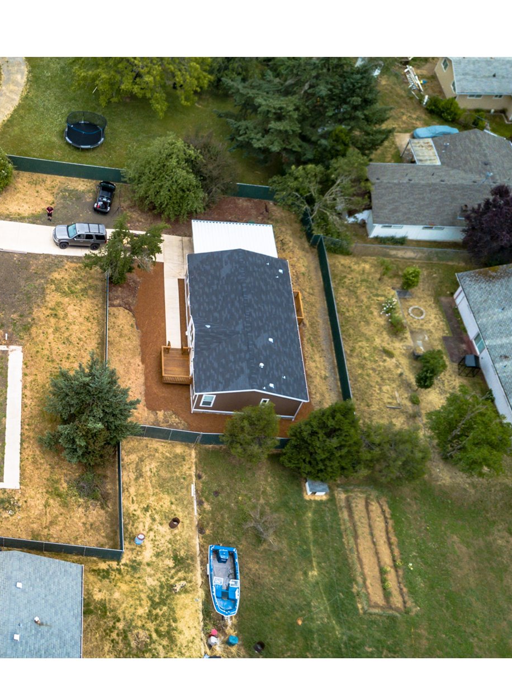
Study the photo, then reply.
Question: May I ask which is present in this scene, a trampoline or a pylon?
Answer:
trampoline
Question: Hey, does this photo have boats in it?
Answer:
Yes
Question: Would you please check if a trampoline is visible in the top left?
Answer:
Yes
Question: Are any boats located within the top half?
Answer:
No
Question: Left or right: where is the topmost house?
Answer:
right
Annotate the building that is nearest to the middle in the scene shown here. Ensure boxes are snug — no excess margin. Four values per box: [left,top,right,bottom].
[183,248,311,422]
